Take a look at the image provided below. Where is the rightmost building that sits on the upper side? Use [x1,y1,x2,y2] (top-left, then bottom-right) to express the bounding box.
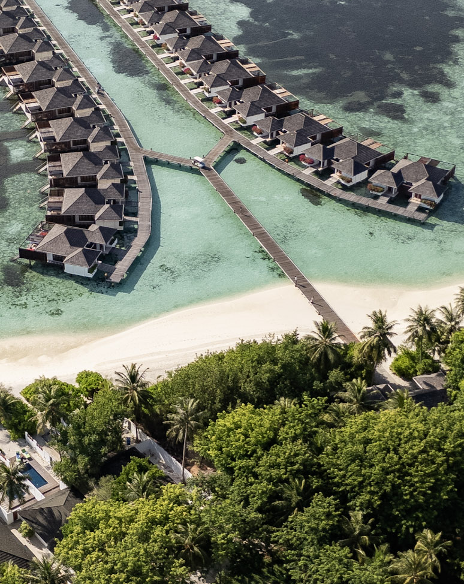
[368,151,457,215]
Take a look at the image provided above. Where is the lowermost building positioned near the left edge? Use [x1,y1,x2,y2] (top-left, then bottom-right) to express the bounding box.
[5,219,121,285]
